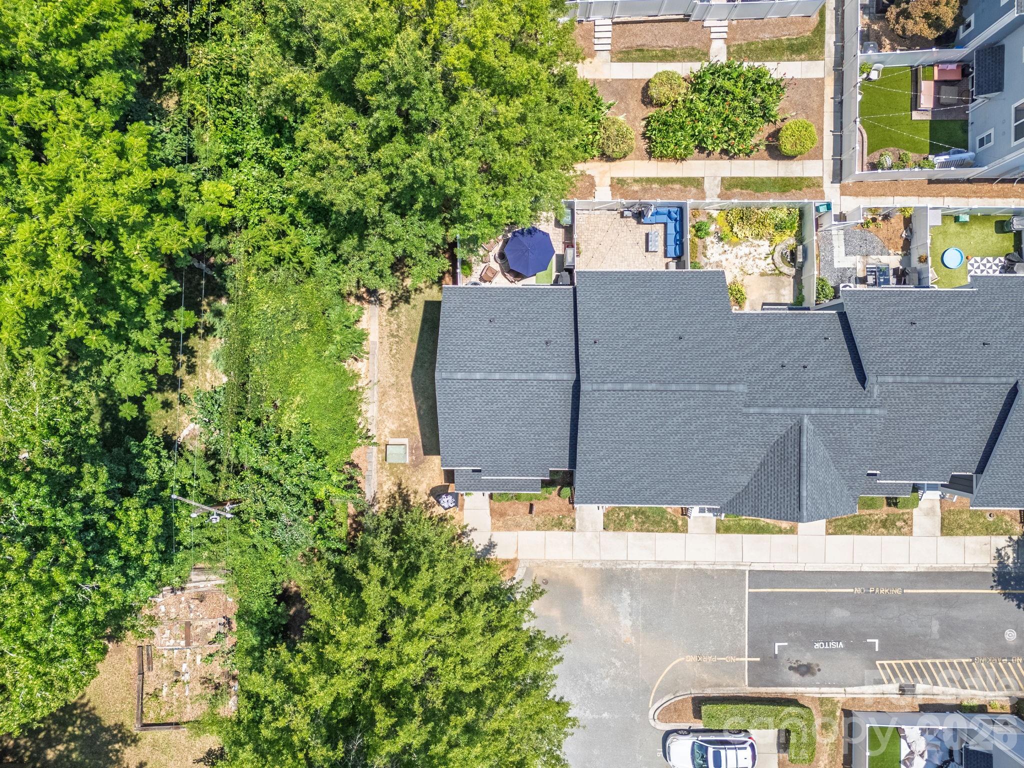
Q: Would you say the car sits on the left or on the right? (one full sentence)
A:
The car is on the right side of the image.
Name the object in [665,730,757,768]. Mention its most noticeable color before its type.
white car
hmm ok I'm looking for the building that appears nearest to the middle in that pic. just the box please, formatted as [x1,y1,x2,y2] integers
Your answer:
[435,284,579,493]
